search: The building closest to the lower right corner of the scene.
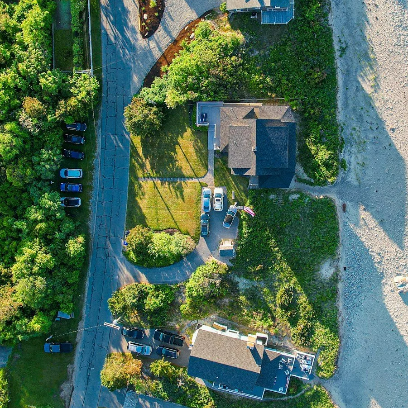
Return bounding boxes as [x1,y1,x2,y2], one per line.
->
[188,324,315,402]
